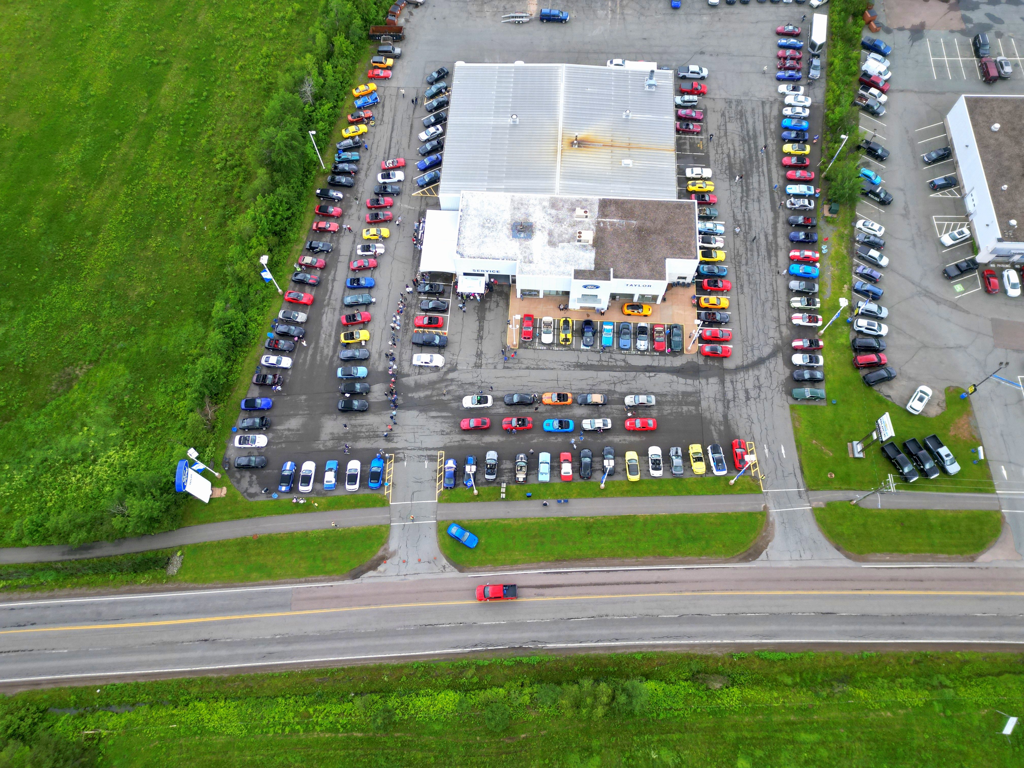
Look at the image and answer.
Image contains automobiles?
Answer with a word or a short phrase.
Yes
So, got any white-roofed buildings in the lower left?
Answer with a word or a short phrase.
No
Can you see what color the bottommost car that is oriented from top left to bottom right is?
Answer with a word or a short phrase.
blue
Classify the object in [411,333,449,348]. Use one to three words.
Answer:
vehicle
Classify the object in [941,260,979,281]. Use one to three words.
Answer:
truck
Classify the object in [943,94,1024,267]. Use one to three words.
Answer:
building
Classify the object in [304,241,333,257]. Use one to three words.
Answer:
car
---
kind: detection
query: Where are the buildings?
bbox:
[438,58,701,313]
[943,94,1024,267]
